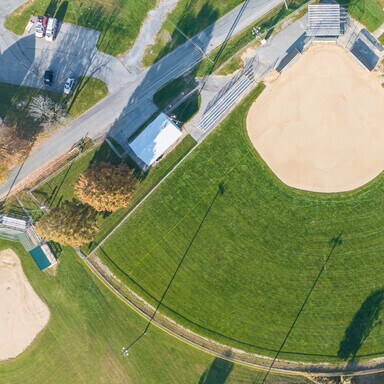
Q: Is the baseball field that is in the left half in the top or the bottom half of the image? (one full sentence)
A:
The baseball field that is in the left half sits in the bottom half of the picture.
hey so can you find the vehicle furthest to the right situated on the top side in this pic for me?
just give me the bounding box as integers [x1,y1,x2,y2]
[62,76,75,95]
